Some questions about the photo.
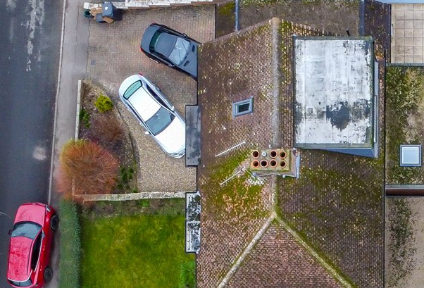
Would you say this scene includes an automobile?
Yes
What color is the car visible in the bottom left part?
red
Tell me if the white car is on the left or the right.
left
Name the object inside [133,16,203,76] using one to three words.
car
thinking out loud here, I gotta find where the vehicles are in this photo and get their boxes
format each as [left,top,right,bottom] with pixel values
[133,16,203,76]
[4,202,58,288]
[109,66,185,154]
